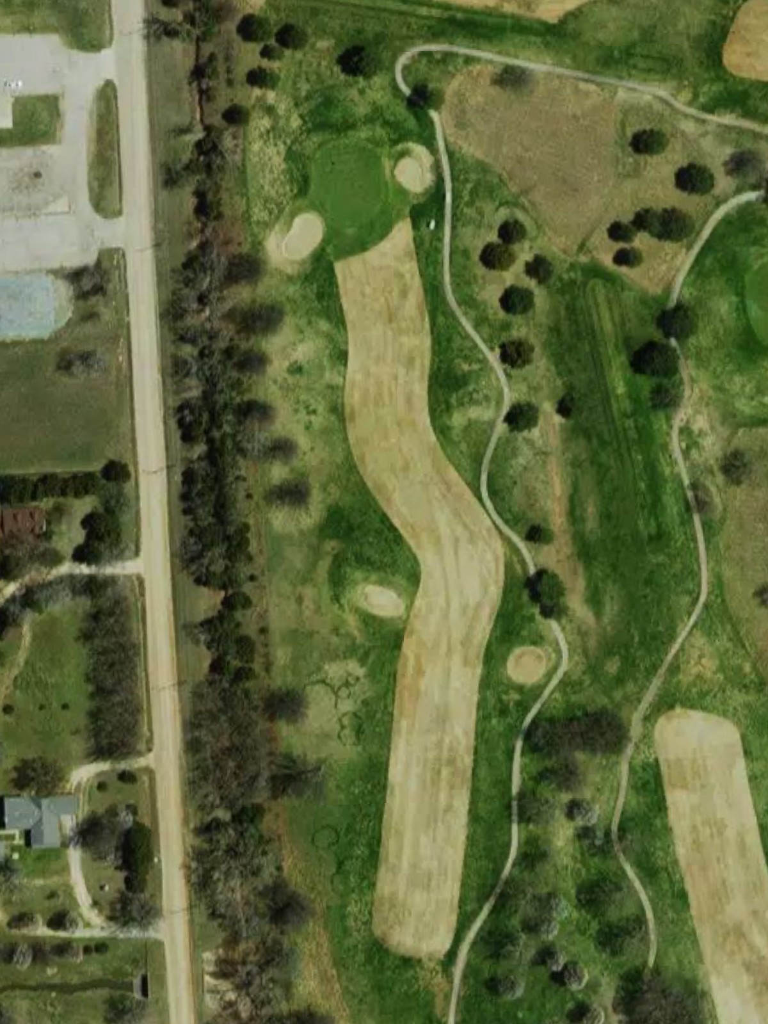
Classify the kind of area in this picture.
golf course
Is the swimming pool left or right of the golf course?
to its left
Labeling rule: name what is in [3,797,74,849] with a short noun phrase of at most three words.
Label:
house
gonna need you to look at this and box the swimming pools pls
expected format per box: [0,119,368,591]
[0,272,74,341]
